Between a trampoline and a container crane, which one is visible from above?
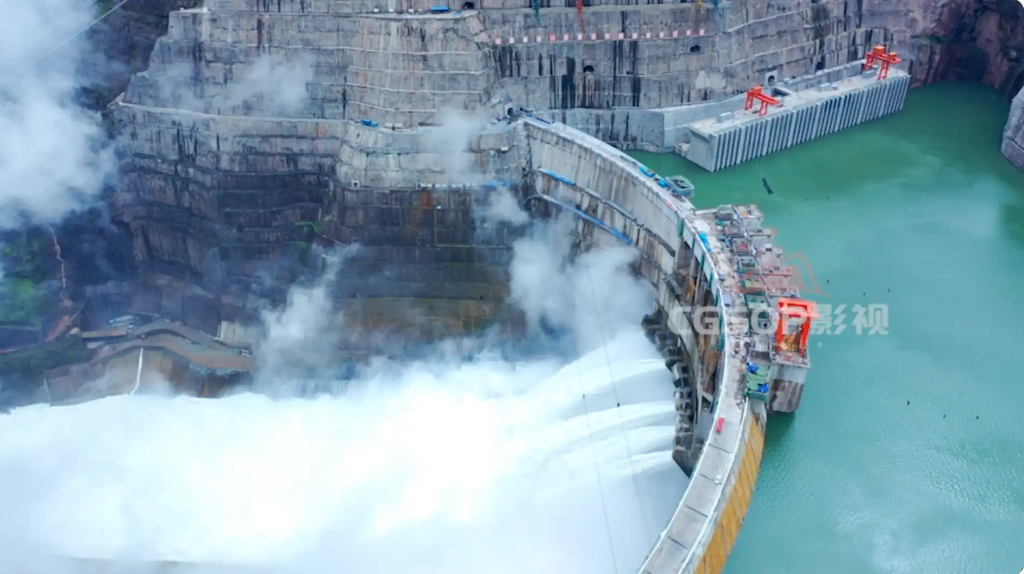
container crane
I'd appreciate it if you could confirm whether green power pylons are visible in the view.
No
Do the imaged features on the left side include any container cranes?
No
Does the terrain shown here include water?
Yes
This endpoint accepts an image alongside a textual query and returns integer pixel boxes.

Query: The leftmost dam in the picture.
[518,116,765,574]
